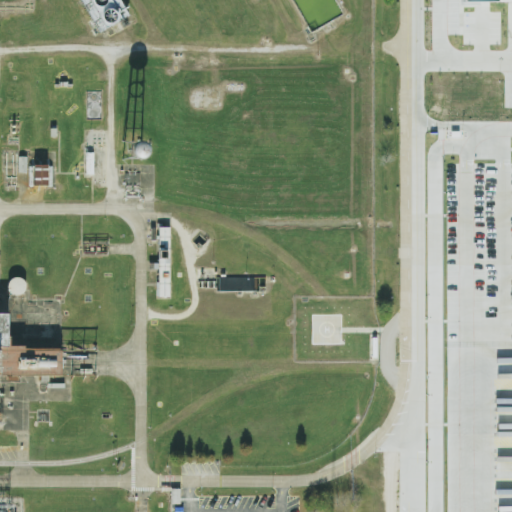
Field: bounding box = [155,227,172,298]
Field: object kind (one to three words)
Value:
building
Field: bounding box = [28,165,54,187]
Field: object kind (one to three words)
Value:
building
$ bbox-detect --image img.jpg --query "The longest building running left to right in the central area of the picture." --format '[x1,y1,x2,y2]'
[218,277,259,292]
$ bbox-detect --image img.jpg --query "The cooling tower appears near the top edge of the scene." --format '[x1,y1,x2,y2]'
[81,0,122,31]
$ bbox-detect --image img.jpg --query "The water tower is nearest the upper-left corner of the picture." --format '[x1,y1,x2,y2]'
[122,139,153,160]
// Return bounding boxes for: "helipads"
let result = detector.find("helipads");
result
[312,314,344,346]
